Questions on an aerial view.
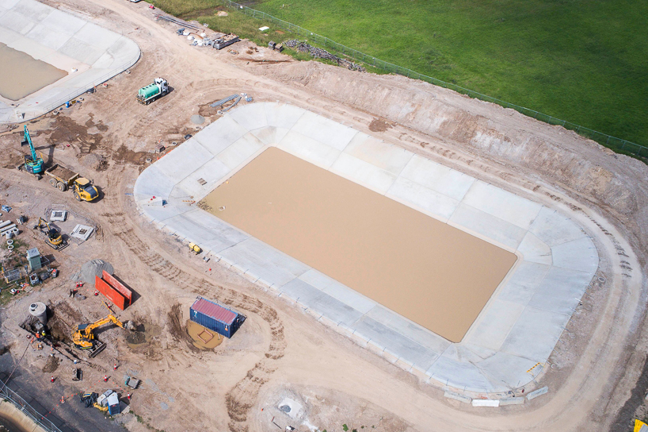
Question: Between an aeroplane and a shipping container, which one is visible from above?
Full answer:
The one in the frame is a shipping container.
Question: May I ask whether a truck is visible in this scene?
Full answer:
Yes, there's a truck down there.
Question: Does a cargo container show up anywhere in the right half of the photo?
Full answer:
No, the scene shows no cargo container in the right half of the photo.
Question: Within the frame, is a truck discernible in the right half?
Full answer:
No, looking in the right half, there is no truck.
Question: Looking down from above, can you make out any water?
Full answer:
Yes, there is water in the image.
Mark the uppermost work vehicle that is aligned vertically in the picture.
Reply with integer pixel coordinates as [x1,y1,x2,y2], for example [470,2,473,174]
[21,123,48,177]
